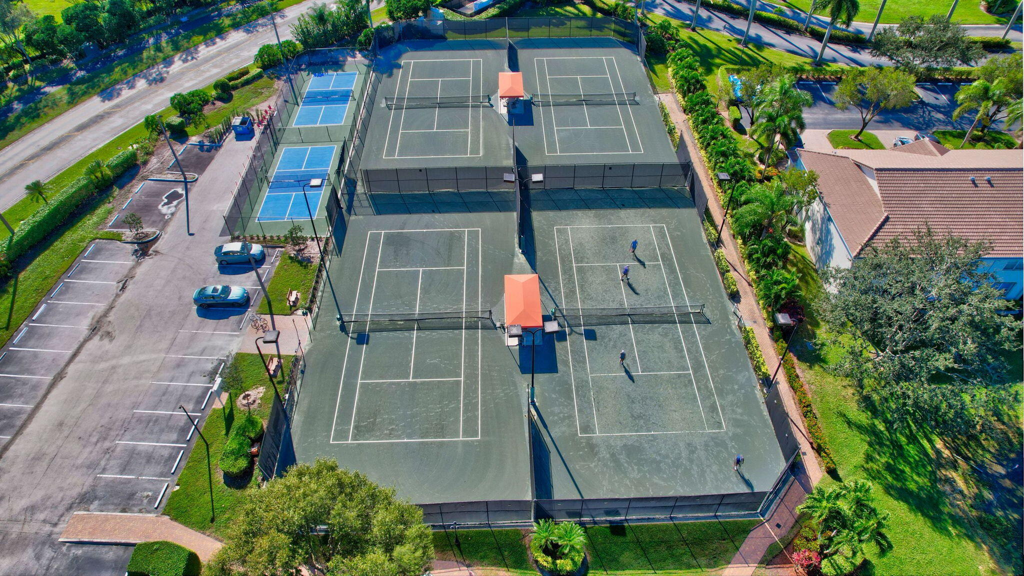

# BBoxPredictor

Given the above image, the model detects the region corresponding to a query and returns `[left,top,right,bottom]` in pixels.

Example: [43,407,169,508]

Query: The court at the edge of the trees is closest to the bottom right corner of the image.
[515,187,787,521]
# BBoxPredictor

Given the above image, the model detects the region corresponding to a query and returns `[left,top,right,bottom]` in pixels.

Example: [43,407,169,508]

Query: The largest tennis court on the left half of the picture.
[274,191,534,526]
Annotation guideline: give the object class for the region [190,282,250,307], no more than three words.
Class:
car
